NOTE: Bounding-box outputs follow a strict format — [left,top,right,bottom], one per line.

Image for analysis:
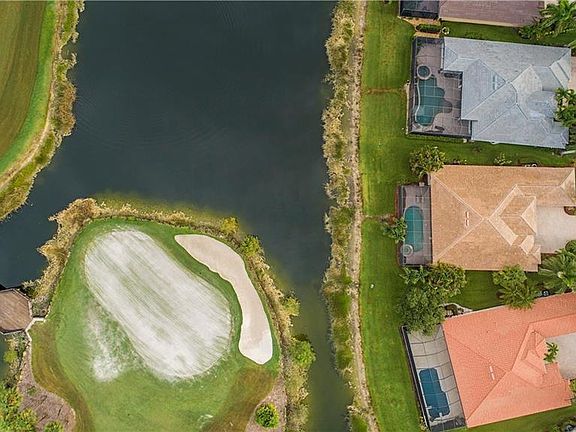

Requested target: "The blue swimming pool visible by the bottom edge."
[420,368,452,423]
